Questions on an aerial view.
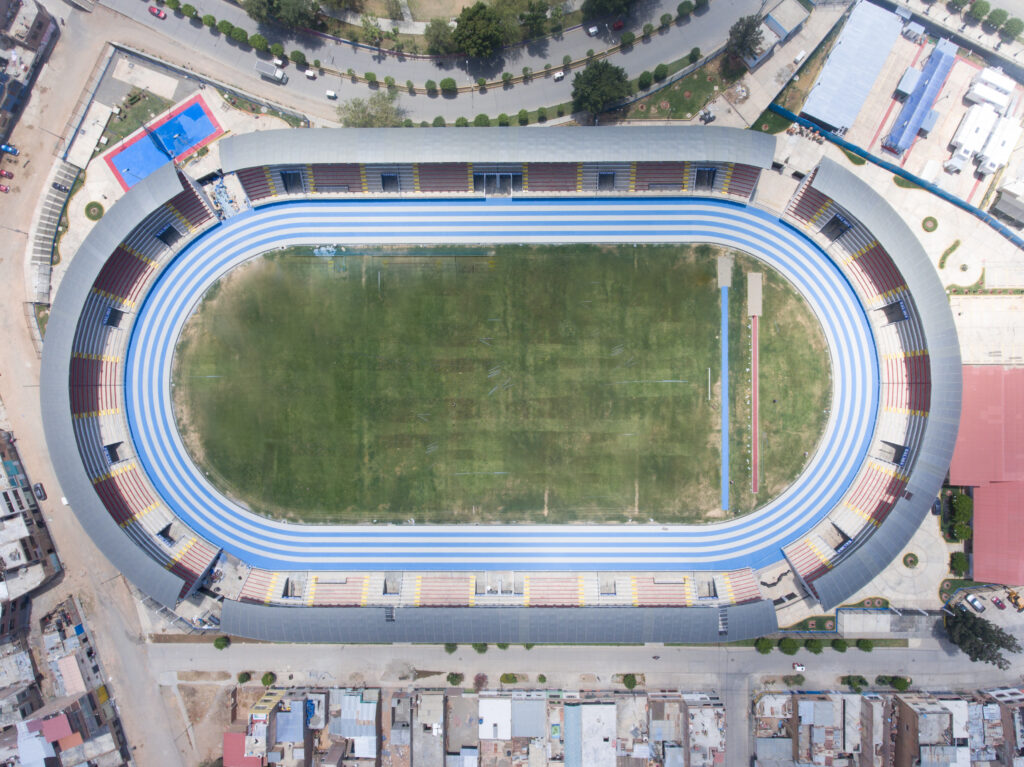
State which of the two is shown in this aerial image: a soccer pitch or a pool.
soccer pitch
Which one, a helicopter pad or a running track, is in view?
running track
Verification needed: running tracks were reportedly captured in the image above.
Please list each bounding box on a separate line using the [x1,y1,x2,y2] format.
[124,193,879,575]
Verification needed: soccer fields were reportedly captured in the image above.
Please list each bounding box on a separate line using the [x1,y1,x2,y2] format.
[170,244,833,524]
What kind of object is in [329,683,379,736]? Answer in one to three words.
house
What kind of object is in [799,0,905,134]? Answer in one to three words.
building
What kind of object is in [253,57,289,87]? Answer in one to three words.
truck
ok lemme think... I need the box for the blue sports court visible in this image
[104,94,223,192]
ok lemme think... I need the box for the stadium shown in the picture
[40,127,961,643]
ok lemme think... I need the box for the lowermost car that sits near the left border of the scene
[33,481,49,502]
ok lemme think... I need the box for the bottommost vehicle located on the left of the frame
[207,612,222,625]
